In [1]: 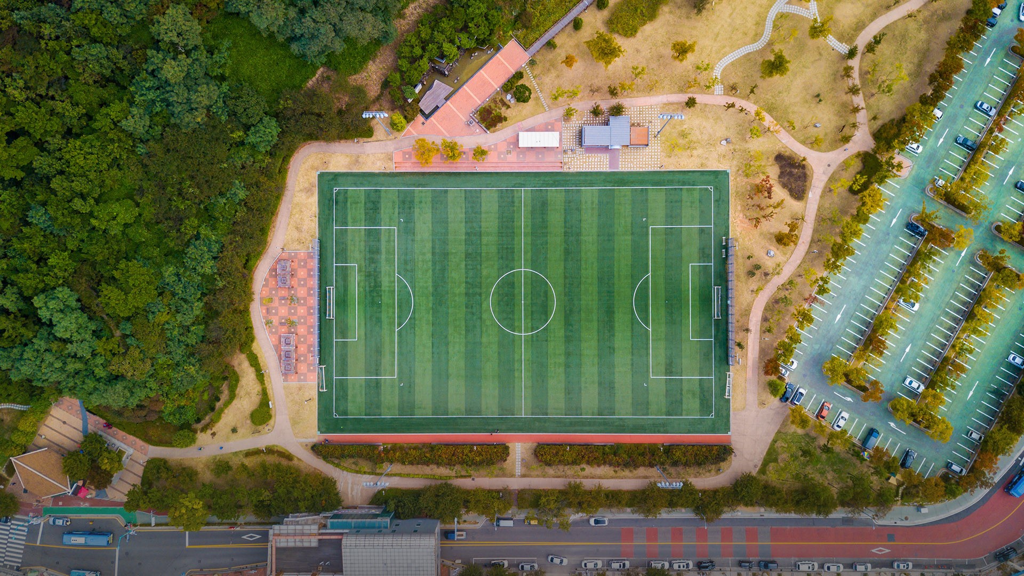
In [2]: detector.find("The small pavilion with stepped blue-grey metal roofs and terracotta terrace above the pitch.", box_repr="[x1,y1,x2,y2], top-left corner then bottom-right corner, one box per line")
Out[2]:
[580,116,650,150]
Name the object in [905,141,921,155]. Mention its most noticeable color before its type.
white car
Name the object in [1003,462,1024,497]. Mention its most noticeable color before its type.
blue bus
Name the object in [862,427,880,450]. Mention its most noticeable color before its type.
blue vehicle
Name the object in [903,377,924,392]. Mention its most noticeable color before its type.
white car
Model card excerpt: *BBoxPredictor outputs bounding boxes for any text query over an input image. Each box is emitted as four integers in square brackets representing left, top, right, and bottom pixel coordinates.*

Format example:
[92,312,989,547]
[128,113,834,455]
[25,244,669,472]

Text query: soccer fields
[317,170,731,435]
